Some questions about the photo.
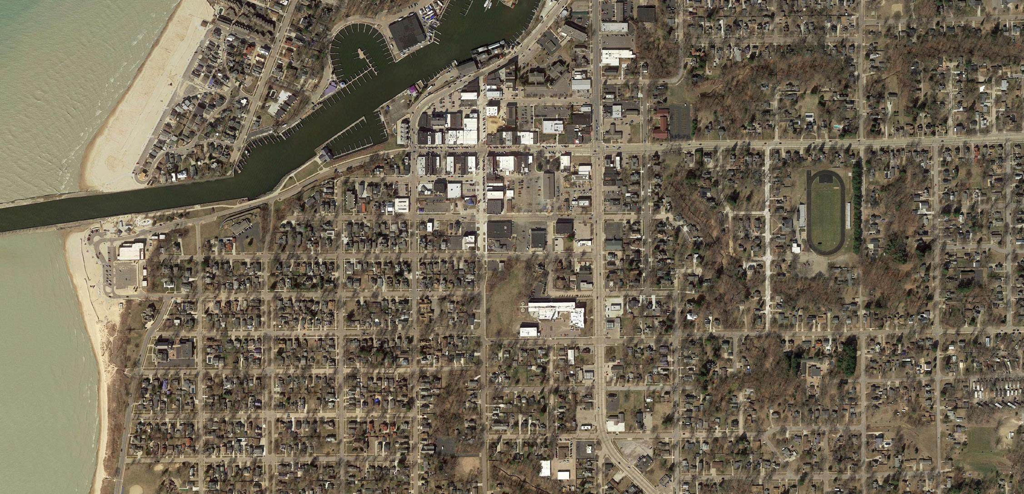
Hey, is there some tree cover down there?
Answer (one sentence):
Yes, the picture does contain tree cover.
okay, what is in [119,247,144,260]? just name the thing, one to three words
building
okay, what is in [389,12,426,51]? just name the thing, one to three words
building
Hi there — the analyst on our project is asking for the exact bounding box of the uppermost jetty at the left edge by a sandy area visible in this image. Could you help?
[0,185,136,209]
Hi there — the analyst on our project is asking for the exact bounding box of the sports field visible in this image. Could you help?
[811,174,841,251]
